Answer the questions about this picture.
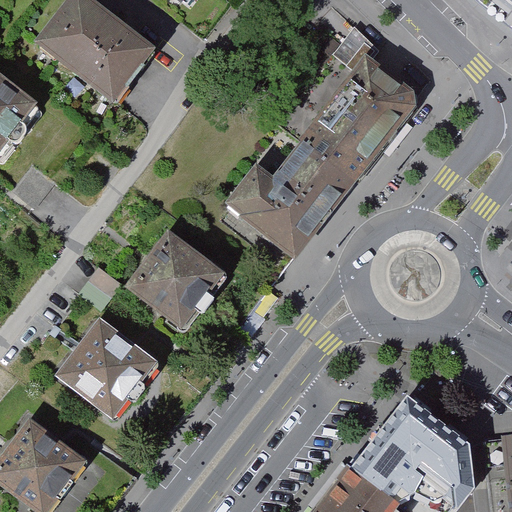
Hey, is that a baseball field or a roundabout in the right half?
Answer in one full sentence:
The feature located in the right half is a roundabout.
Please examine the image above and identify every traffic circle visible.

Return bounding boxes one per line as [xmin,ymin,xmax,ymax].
[349,210,481,342]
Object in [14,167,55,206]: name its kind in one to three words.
building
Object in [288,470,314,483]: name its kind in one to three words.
vehicle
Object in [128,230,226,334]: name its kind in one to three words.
house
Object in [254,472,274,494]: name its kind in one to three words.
car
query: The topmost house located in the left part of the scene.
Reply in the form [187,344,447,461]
[36,0,155,107]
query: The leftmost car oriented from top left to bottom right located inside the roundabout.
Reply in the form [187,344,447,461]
[437,232,457,250]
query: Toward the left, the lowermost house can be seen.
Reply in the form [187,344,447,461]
[0,419,87,512]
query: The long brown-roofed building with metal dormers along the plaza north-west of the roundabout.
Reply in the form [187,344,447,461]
[224,56,418,256]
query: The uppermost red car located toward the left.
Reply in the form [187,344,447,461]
[154,51,172,68]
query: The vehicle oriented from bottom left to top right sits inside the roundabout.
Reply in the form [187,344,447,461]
[354,250,375,268]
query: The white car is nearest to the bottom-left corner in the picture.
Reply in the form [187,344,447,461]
[0,344,20,366]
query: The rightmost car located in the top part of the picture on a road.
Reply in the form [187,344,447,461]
[491,82,508,103]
